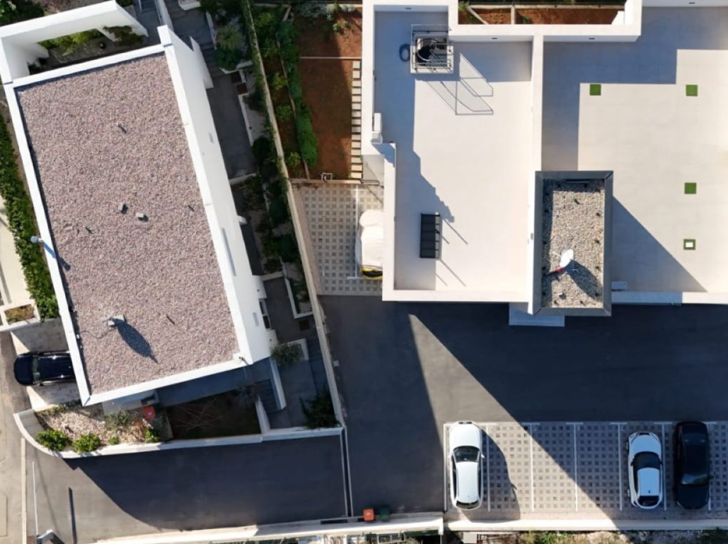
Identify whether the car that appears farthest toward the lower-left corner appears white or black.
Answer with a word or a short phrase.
black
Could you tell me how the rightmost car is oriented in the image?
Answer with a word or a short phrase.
up and down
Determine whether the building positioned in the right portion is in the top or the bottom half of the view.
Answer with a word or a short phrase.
top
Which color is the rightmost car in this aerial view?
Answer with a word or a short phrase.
black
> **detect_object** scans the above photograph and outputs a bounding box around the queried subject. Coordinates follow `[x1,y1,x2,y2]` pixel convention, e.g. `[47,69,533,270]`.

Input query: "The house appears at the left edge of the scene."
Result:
[0,1,268,409]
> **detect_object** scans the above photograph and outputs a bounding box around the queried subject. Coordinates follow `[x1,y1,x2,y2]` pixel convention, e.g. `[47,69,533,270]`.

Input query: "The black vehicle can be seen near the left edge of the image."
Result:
[13,350,80,390]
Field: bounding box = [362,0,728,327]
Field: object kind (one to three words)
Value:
building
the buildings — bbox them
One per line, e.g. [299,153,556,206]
[0,1,268,409]
[362,0,728,327]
